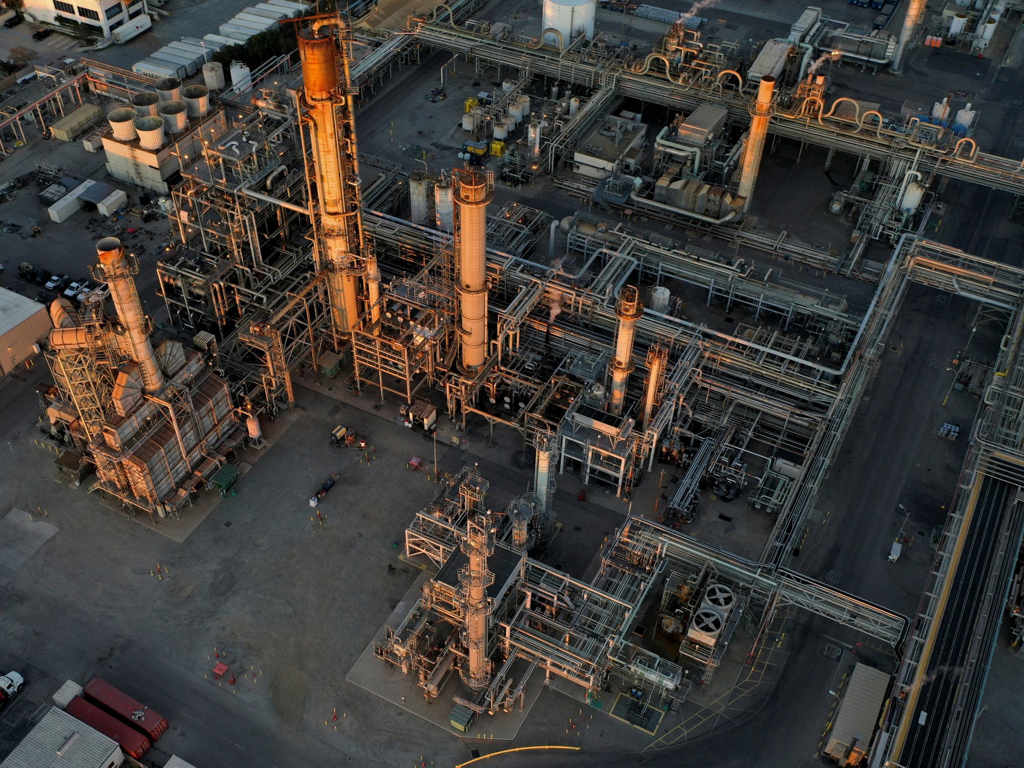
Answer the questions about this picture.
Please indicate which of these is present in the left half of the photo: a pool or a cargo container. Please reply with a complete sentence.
The feature located in the left half of the photo is a cargo container.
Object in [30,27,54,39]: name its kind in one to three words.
vehicle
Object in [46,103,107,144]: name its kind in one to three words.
shipping container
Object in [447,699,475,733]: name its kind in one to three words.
shed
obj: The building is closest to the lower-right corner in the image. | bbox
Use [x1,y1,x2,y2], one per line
[818,659,890,768]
